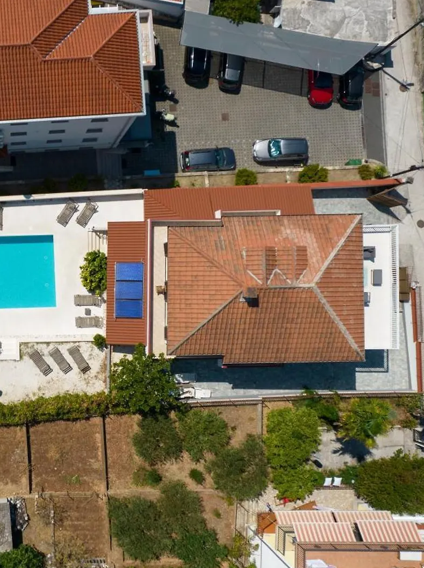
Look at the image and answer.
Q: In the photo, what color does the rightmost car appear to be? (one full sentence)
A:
From above, the rightmost car appears black.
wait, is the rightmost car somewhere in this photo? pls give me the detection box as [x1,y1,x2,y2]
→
[333,60,367,118]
